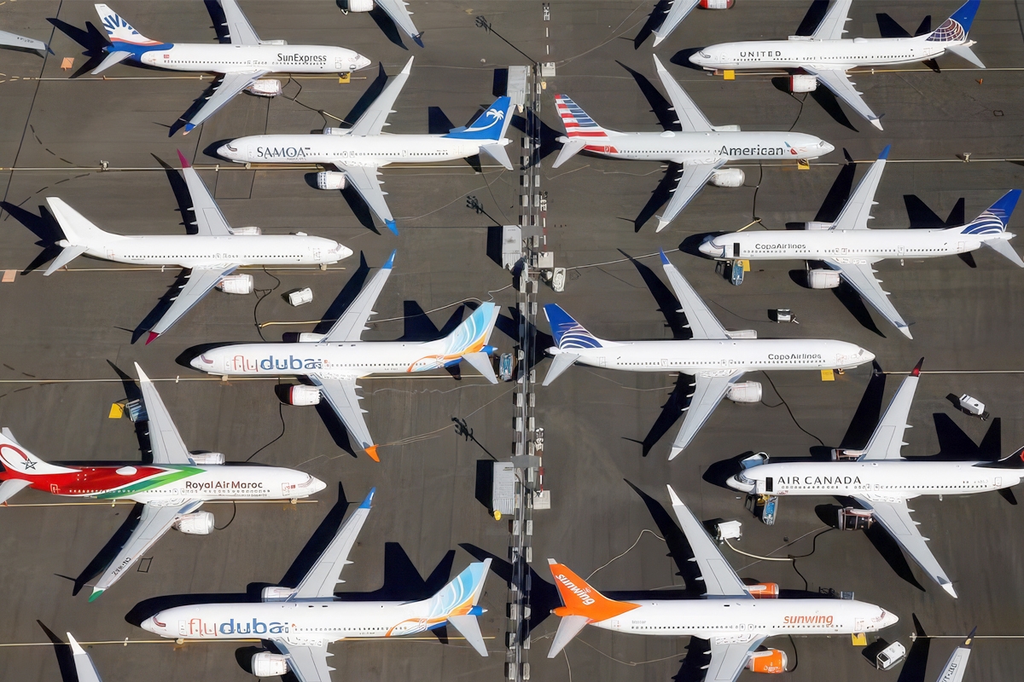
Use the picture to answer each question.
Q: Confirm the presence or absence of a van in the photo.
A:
Yes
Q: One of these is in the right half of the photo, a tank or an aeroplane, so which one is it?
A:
aeroplane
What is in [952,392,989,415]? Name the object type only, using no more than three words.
work vehicle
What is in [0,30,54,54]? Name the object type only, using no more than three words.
airplane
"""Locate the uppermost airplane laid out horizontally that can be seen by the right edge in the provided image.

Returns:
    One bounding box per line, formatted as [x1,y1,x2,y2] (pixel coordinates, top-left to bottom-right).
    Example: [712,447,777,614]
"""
[687,0,985,130]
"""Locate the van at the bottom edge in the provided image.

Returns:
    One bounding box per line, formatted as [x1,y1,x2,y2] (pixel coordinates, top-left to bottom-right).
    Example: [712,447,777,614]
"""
[874,631,911,662]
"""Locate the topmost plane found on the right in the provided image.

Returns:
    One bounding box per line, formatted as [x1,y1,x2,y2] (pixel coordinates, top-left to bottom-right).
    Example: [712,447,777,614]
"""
[653,0,734,46]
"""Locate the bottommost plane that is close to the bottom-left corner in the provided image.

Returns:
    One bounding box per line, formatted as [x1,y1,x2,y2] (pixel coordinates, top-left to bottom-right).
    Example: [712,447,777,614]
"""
[67,632,99,682]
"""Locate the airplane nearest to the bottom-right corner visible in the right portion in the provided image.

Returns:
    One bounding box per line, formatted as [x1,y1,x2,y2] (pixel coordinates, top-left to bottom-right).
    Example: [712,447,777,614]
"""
[942,626,978,682]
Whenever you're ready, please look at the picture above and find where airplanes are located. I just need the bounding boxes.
[44,150,352,345]
[0,30,54,54]
[653,0,734,46]
[725,358,1024,597]
[92,0,371,134]
[687,0,985,130]
[141,486,492,682]
[942,626,978,682]
[67,632,99,682]
[0,363,326,600]
[215,57,517,235]
[546,485,900,682]
[188,248,502,462]
[552,54,837,232]
[696,143,1024,339]
[347,0,425,48]
[541,247,878,463]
